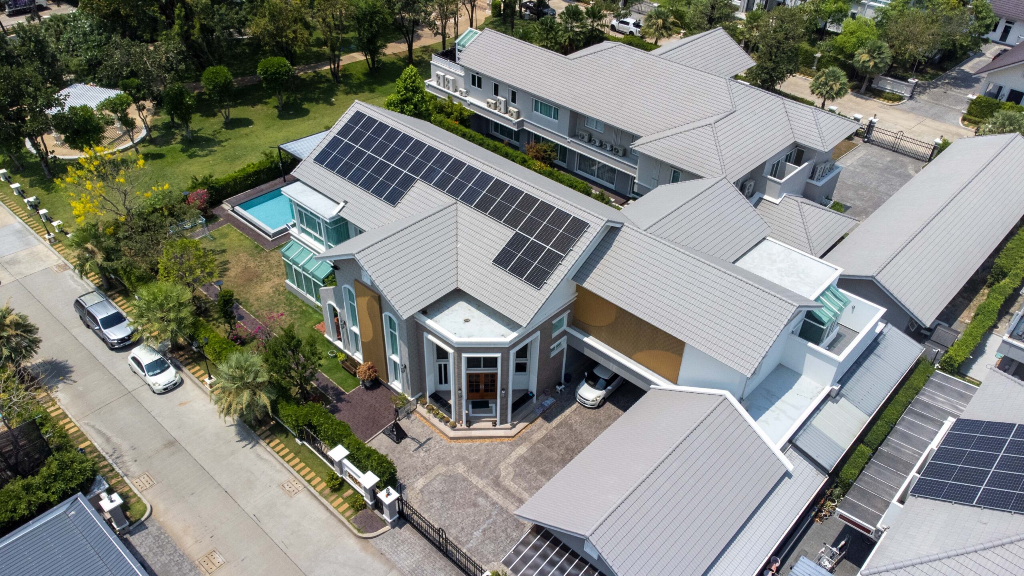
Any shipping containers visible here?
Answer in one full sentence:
No, the picture doesn't show any shipping container.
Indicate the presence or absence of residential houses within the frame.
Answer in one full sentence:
Yes, there is a residential house in the image.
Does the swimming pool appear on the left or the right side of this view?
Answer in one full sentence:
The swimming pool sits on the left side.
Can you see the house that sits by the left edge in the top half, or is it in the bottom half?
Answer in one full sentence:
The house that sits by the left edge is in the bottom half of the image.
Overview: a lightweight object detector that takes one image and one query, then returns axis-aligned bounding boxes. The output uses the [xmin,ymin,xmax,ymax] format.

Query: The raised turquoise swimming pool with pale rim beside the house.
[223,179,300,245]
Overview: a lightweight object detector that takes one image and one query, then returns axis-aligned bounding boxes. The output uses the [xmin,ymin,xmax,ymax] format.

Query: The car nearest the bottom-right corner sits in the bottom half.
[578,364,631,408]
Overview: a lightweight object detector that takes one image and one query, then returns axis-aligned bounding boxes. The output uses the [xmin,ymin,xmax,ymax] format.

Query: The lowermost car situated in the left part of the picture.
[127,341,184,395]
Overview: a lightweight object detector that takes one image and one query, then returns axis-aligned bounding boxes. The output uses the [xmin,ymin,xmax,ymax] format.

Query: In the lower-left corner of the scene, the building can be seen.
[0,492,149,576]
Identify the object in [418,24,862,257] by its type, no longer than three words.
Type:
house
